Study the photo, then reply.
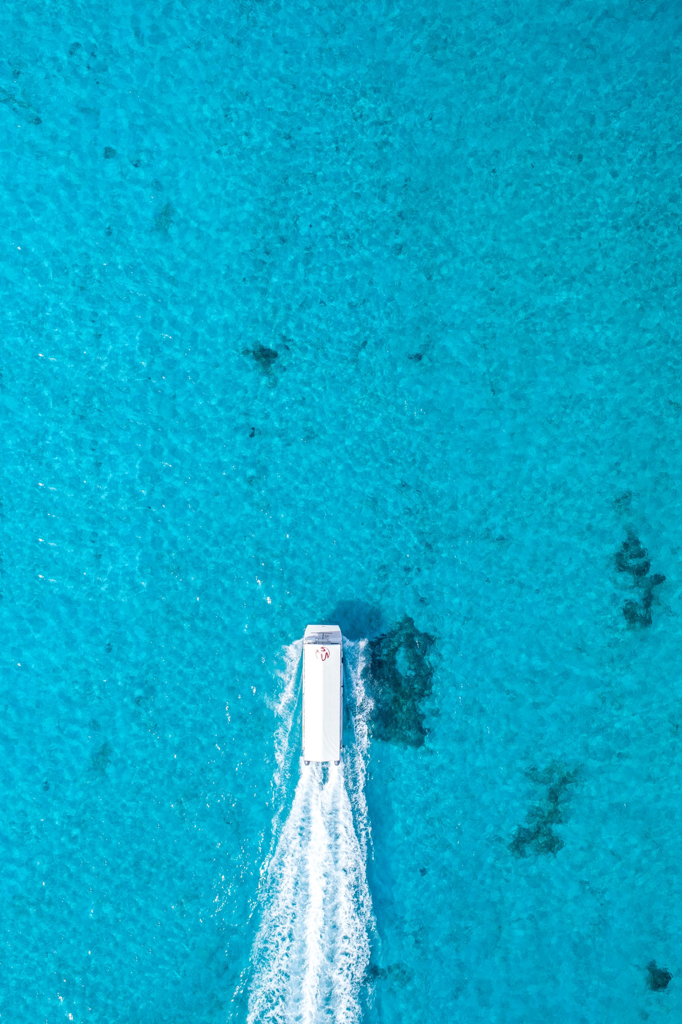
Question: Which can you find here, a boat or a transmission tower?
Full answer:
I can see a boat in this picture.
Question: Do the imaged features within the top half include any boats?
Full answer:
No, no boat appears within the top half.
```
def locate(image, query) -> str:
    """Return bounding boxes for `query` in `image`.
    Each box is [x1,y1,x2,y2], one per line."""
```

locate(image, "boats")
[303,624,343,766]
